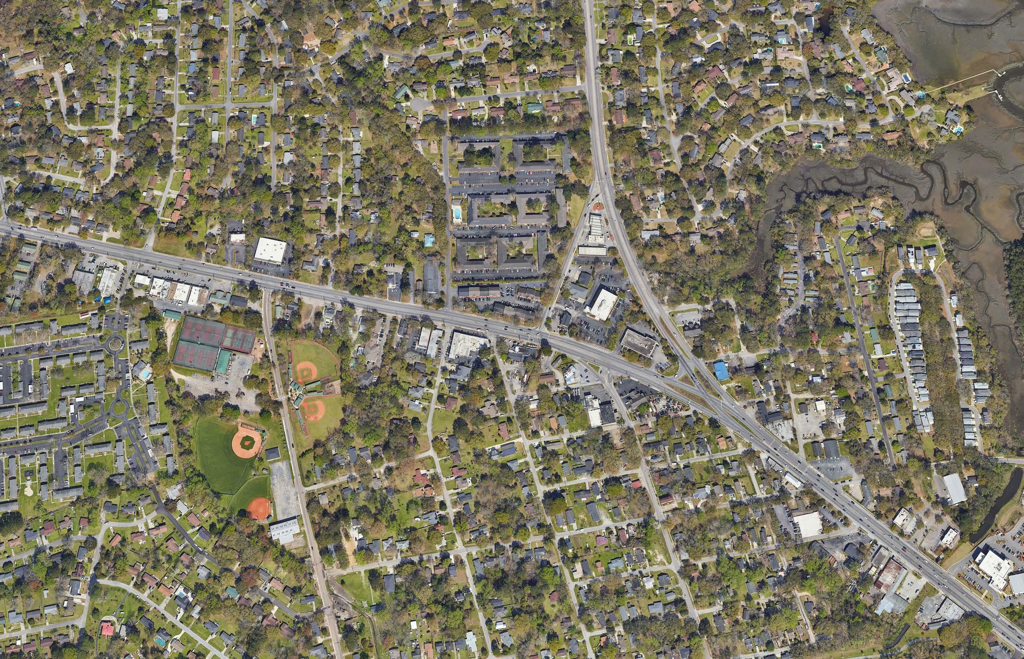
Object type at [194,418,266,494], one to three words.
baseball field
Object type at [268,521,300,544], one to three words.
building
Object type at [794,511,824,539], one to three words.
building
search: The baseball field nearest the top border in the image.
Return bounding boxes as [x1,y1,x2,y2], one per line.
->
[290,340,341,386]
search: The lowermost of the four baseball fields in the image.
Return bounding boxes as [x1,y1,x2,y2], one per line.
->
[226,476,272,521]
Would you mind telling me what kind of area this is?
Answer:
residential area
